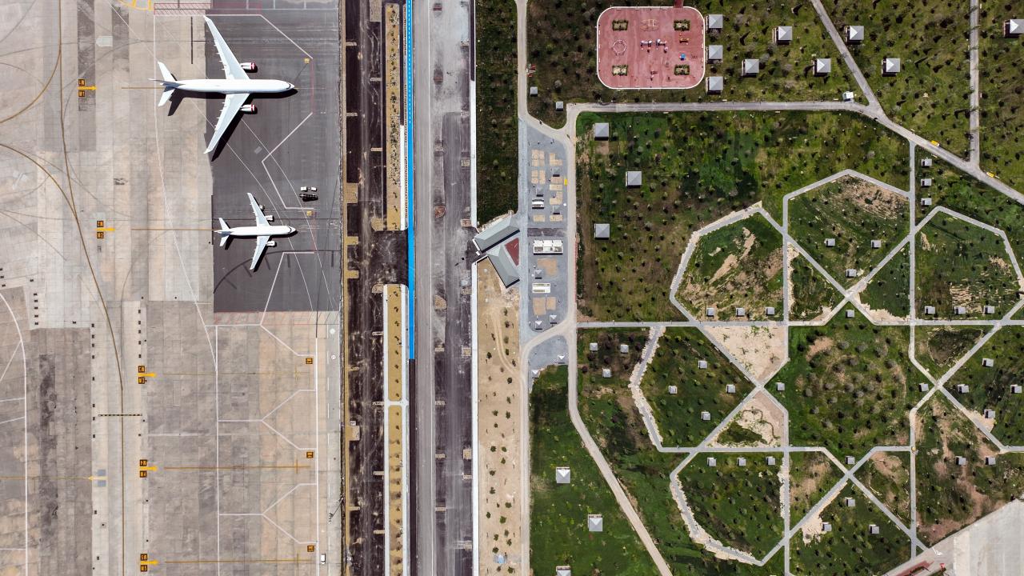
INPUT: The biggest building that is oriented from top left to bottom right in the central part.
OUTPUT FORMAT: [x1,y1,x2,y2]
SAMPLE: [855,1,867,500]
[487,245,520,287]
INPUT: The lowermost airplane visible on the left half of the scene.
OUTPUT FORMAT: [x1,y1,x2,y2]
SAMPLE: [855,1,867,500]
[214,192,296,269]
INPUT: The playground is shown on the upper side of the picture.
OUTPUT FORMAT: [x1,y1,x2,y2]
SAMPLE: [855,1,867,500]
[598,7,705,88]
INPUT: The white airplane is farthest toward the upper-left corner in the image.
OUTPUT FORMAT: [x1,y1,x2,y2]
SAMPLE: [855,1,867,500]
[148,15,295,153]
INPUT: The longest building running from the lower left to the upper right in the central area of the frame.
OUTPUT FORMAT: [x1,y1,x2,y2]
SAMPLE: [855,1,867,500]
[474,216,520,251]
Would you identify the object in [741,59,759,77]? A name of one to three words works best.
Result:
building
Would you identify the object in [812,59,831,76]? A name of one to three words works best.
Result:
building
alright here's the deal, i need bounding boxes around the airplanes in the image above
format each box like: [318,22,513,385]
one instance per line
[148,15,295,153]
[214,192,296,269]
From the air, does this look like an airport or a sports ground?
airport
